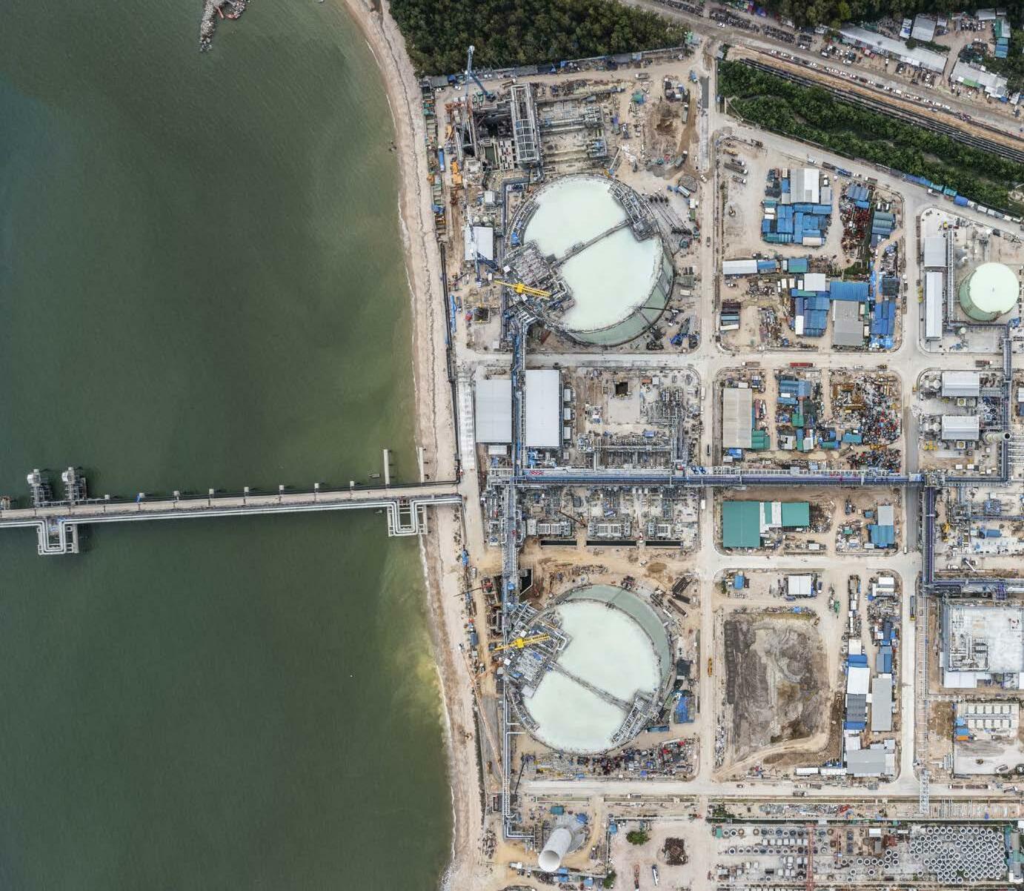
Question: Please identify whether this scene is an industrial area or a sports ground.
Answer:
industrial area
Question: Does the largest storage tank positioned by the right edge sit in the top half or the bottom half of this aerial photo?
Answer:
top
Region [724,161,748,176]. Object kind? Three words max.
vehicle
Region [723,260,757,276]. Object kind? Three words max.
shed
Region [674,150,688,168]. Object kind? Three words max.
vehicle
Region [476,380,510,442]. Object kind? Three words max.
building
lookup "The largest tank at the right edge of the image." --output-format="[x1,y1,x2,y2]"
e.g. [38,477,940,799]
[960,263,1023,322]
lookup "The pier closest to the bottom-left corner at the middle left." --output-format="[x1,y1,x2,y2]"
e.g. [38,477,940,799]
[0,484,461,555]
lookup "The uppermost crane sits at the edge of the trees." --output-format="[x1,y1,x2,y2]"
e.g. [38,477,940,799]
[460,45,496,161]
